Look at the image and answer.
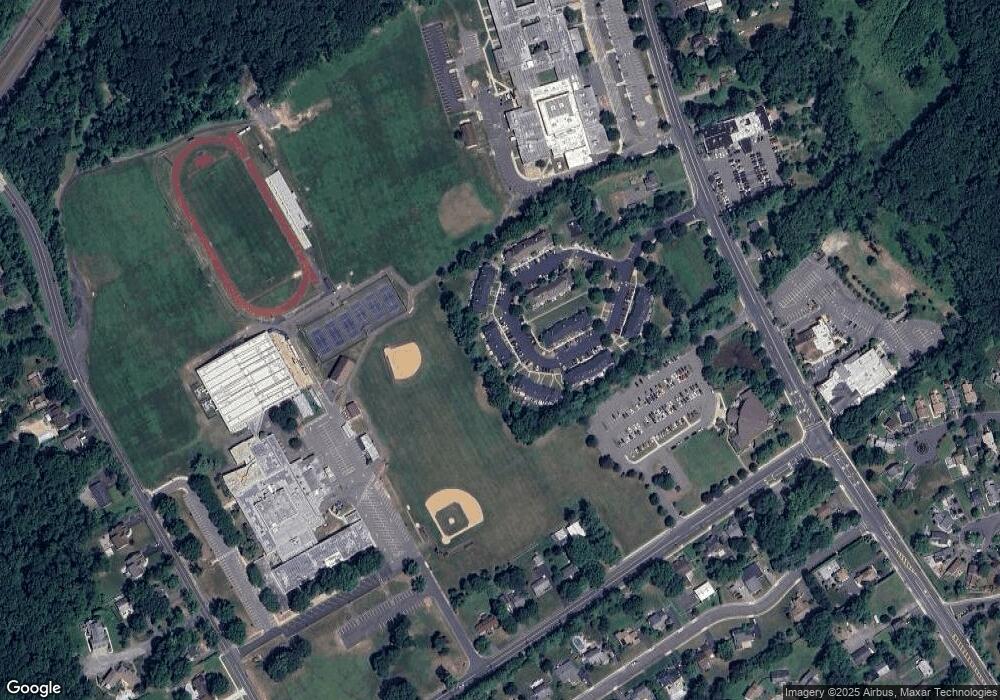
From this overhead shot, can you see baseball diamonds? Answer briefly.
Yes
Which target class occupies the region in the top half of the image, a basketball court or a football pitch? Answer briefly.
football pitch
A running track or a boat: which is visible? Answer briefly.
running track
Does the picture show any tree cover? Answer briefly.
Yes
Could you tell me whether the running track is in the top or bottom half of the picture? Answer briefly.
top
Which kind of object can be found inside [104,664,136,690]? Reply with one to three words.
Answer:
house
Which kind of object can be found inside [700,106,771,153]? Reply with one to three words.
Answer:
building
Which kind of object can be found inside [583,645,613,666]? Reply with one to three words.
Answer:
house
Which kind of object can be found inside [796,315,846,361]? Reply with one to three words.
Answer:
building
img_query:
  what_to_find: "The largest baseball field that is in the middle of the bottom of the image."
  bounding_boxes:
[426,489,482,548]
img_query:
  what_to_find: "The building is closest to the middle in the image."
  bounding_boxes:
[483,320,515,367]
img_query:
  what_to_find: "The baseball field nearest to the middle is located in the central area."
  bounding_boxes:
[382,340,423,381]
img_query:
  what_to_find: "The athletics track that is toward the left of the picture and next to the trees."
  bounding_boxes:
[171,132,318,317]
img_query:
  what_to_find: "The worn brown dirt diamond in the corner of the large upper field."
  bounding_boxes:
[440,184,497,235]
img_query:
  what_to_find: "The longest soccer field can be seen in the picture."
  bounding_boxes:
[181,144,300,308]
